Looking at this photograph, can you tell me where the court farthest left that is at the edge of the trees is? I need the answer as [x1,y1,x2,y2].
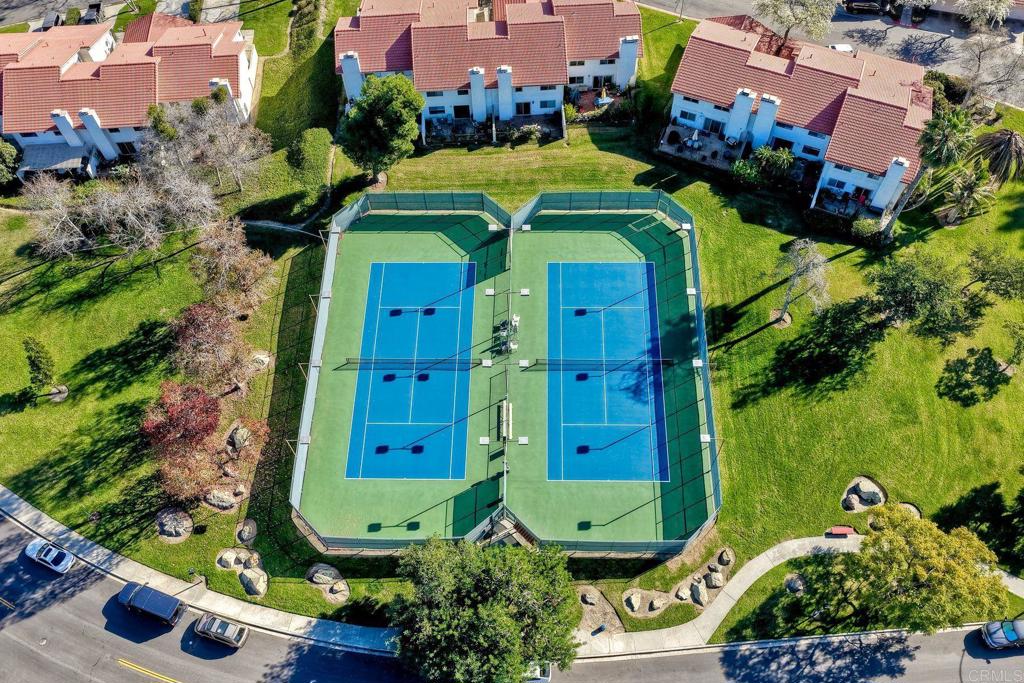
[299,211,512,562]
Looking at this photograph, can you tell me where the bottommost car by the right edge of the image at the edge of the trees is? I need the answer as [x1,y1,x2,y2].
[981,618,1024,648]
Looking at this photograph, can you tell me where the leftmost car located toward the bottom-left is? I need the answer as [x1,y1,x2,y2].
[24,539,80,575]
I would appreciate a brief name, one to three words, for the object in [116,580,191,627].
truck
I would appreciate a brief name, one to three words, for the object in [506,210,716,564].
tennis court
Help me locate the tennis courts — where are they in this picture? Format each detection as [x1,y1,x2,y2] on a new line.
[506,210,716,564]
[299,211,512,562]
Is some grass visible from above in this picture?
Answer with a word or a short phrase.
Yes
